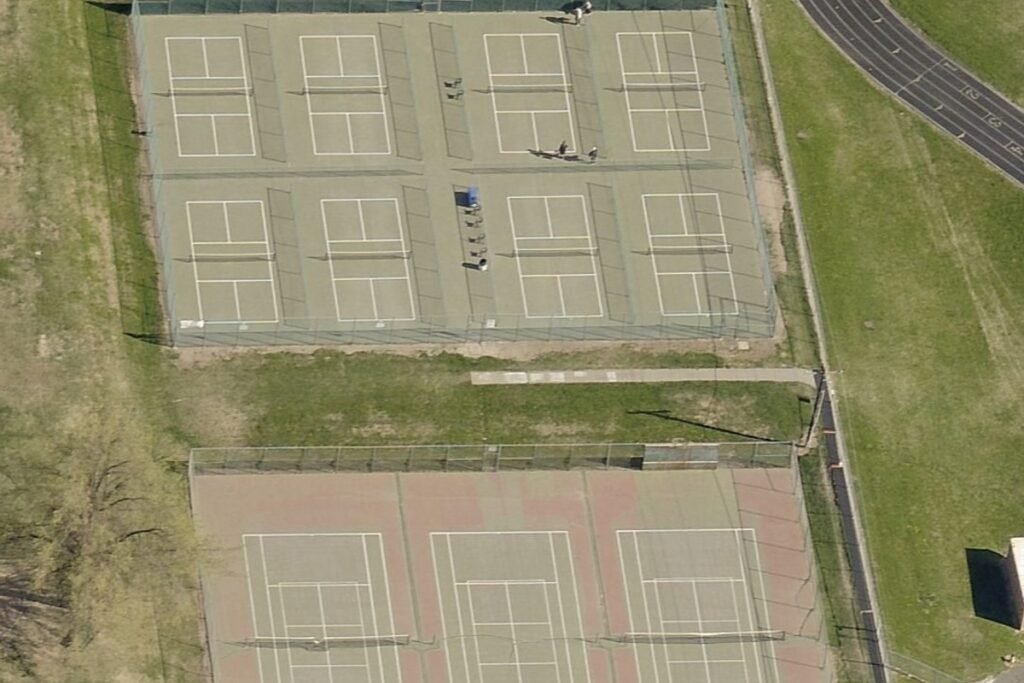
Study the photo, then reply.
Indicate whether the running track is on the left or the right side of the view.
right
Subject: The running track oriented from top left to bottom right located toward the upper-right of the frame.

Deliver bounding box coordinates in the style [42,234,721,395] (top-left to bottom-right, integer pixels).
[795,0,1024,188]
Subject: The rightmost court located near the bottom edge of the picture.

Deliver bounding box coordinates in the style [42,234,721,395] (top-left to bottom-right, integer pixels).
[617,528,779,683]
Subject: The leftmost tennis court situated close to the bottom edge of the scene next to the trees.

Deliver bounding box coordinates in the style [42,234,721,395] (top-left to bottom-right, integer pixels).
[242,533,402,683]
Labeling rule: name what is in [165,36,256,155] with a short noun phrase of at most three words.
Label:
sports court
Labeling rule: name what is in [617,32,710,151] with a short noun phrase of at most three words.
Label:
sports court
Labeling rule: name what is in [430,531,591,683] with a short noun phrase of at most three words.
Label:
tennis court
